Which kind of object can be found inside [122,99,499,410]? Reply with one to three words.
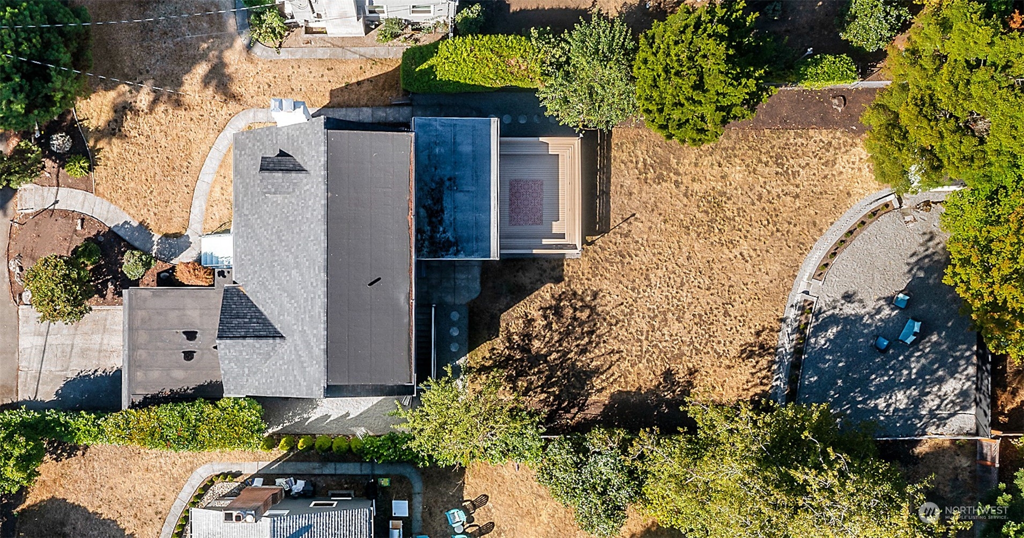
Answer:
house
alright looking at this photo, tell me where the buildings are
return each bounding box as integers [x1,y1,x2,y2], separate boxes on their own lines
[122,99,499,410]
[188,482,380,538]
[270,0,459,36]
